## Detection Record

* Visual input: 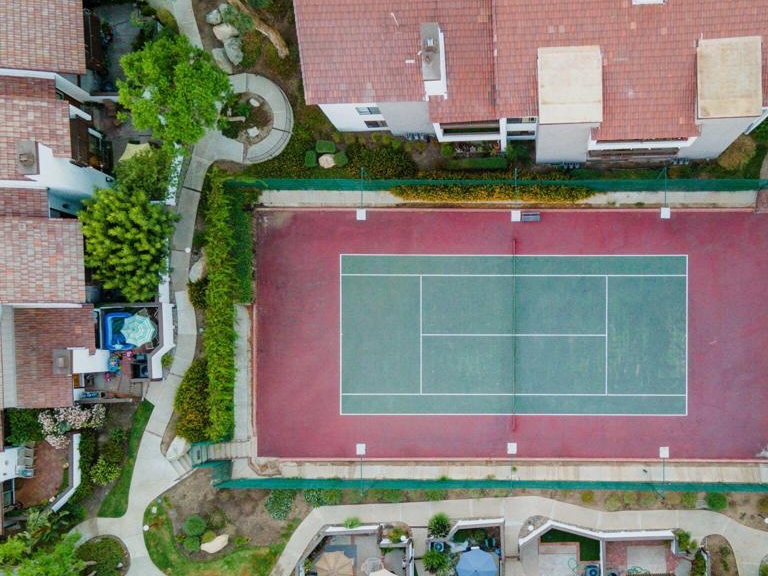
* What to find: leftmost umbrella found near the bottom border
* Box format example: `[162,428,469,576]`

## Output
[316,550,355,576]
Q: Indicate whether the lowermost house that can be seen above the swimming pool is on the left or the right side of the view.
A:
left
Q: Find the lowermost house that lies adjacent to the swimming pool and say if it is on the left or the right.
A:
left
